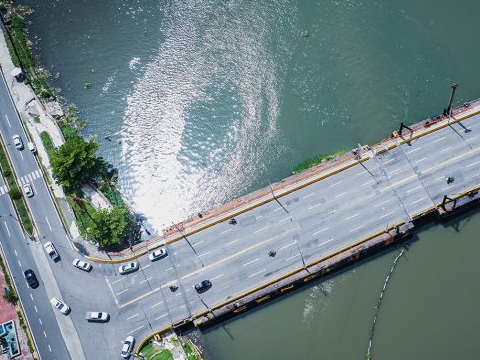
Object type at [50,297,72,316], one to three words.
car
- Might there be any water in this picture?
Yes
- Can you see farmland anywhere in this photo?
No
